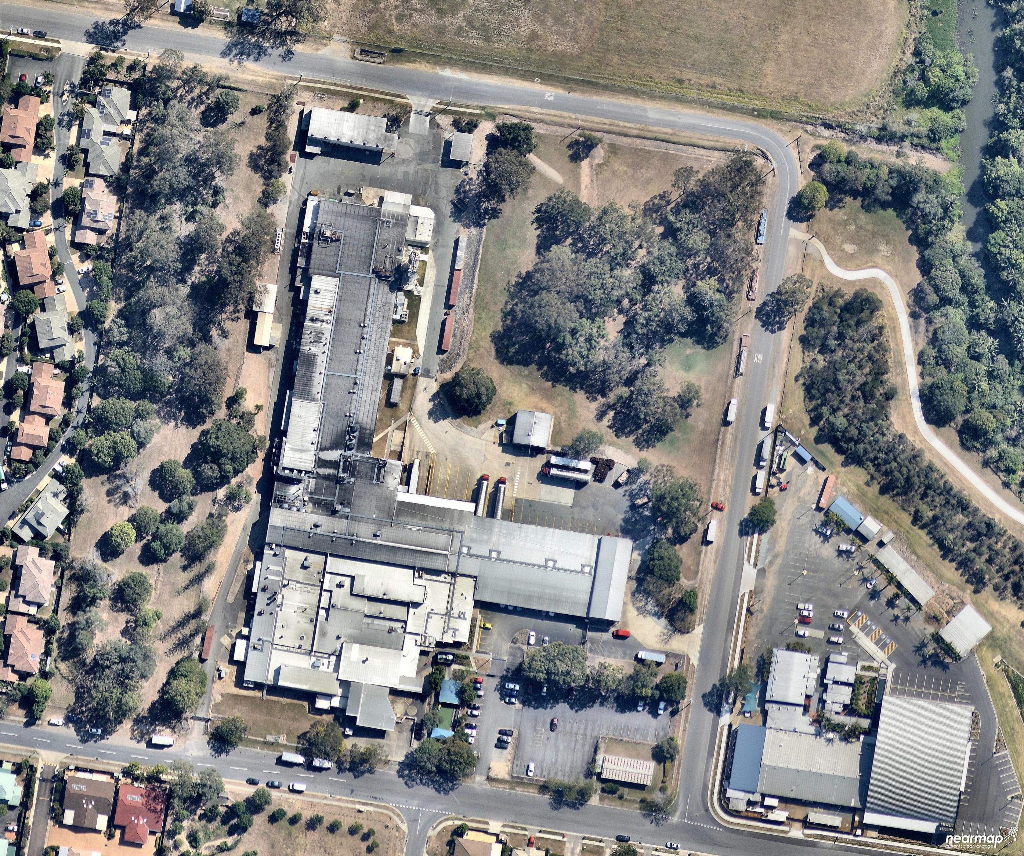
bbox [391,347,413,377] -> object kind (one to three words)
shed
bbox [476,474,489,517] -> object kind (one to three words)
vehicle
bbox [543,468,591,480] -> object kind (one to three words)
vehicle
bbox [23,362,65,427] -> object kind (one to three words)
house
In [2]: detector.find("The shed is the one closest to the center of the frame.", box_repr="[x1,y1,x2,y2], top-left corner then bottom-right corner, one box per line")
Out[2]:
[513,410,553,449]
